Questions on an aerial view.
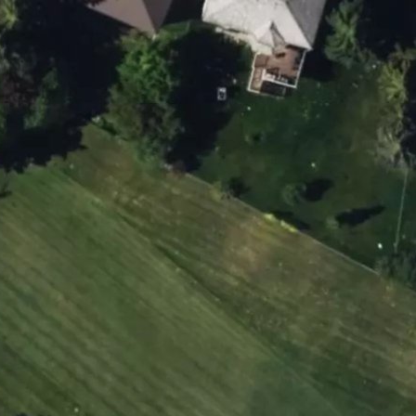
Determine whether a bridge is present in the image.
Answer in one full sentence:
No, I can see no bridge in this picture.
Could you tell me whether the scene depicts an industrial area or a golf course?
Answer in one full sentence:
It's a golf course.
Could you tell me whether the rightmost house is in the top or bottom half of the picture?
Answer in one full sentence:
The rightmost house is in the top half of the image.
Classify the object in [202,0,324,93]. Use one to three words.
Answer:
house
